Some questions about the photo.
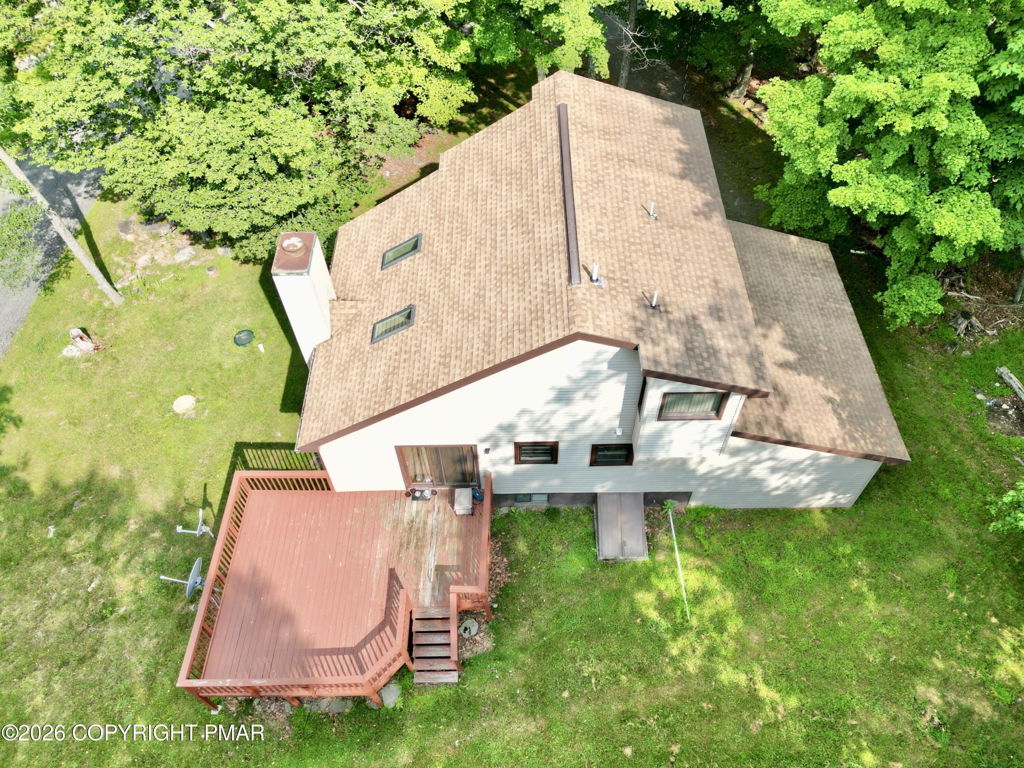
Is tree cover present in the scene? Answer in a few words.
Yes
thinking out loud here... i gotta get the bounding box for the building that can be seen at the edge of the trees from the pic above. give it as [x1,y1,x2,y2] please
[267,67,912,508]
